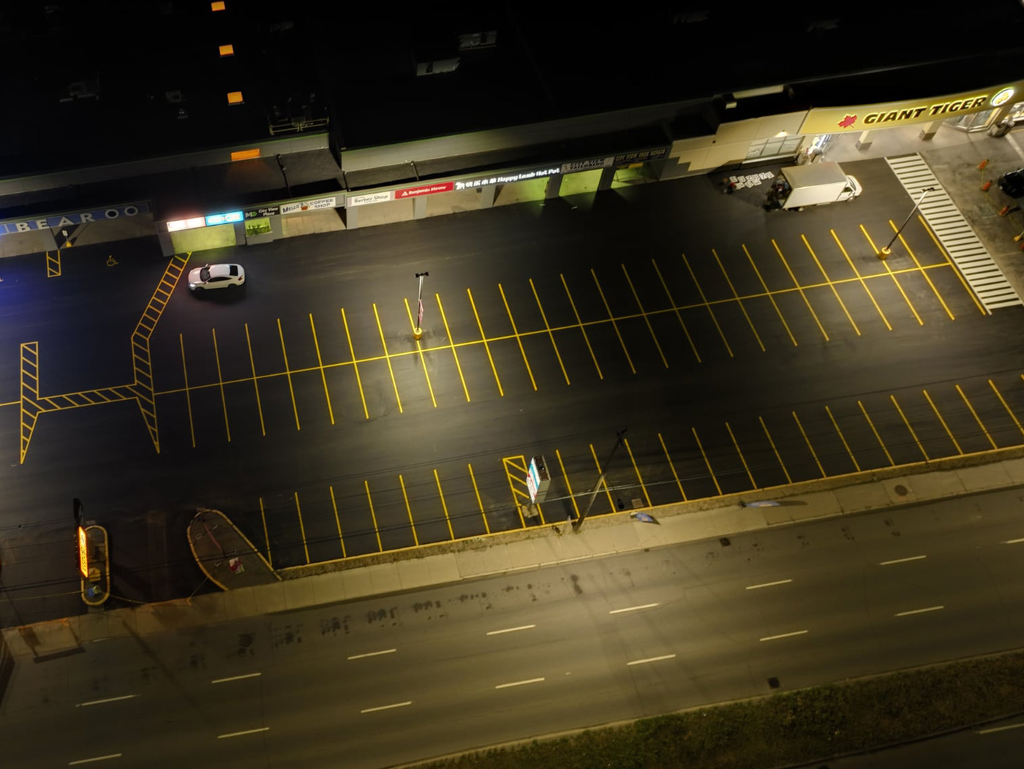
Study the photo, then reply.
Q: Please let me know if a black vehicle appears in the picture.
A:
Yes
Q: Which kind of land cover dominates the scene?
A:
paved ground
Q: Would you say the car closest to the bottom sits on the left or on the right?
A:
left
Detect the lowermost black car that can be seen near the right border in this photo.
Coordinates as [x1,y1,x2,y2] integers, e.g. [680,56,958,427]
[999,163,1024,194]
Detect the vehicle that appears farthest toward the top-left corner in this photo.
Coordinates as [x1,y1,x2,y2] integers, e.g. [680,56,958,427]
[187,264,244,293]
